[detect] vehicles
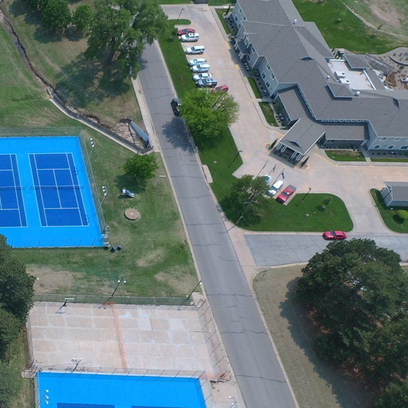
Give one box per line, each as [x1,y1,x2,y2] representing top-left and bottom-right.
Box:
[177,27,196,34]
[278,183,298,201]
[185,31,200,42]
[191,62,211,73]
[269,177,286,195]
[262,170,275,185]
[193,72,213,81]
[197,76,218,88]
[322,231,347,241]
[186,44,206,54]
[218,81,231,92]
[170,100,182,115]
[188,57,208,67]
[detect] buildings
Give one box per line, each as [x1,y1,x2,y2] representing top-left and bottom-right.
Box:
[378,182,408,208]
[230,0,408,165]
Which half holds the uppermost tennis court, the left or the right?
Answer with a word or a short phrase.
left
